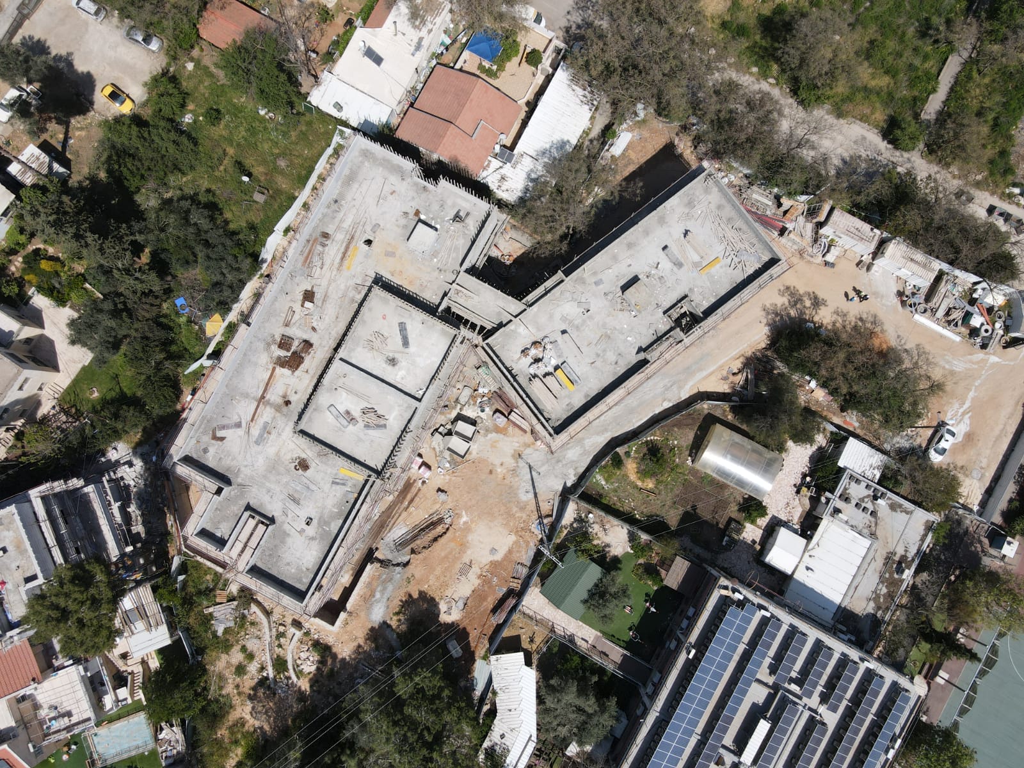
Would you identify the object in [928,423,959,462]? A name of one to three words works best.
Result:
car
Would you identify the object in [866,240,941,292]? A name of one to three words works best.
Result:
shed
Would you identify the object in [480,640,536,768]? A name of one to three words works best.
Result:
shed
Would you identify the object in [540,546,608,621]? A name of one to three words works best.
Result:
house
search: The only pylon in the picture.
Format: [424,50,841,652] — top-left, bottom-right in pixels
[537,530,565,570]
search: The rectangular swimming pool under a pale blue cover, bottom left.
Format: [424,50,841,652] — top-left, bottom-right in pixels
[81,709,157,767]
